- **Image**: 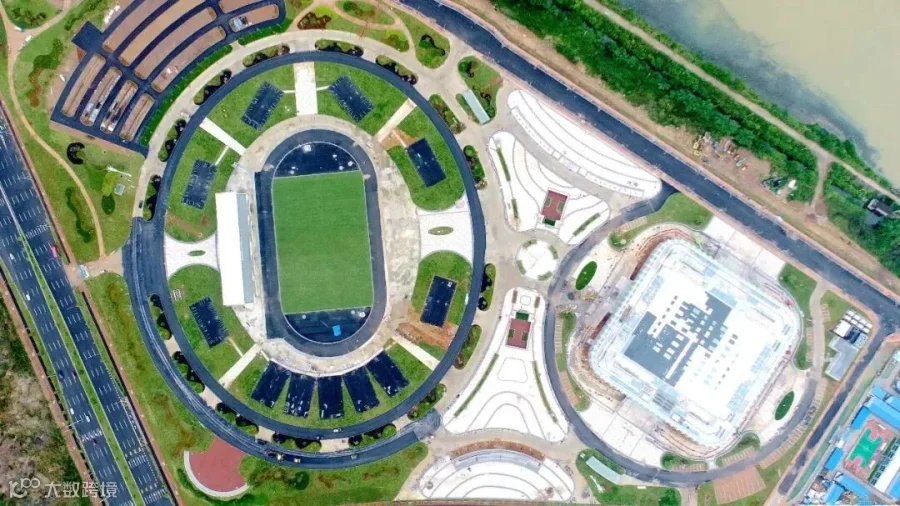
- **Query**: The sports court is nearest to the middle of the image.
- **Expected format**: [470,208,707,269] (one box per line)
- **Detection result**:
[420,275,457,328]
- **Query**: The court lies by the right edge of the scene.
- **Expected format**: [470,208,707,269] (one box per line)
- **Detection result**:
[845,418,896,481]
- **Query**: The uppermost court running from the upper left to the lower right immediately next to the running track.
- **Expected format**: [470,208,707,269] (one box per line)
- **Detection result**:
[330,76,374,120]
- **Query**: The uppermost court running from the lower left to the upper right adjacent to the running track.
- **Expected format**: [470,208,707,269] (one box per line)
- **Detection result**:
[241,81,284,129]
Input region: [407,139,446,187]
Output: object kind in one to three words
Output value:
sports court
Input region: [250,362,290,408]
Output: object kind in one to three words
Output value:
sports court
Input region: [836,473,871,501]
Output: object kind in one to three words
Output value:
building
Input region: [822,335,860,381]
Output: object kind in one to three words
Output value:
building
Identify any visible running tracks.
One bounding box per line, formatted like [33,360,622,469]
[250,128,388,357]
